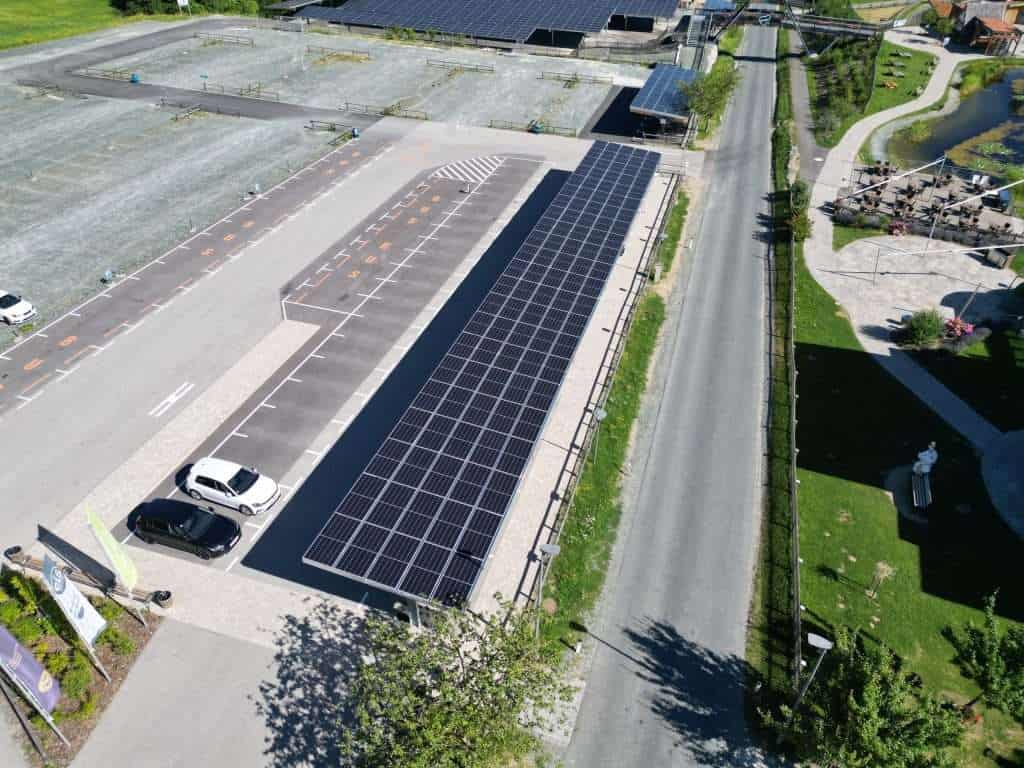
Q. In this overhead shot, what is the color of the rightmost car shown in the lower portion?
white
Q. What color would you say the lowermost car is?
black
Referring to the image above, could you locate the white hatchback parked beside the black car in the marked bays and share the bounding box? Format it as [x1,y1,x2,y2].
[183,460,283,521]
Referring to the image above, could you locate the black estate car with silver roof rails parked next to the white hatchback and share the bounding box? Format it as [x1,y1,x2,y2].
[122,496,238,564]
